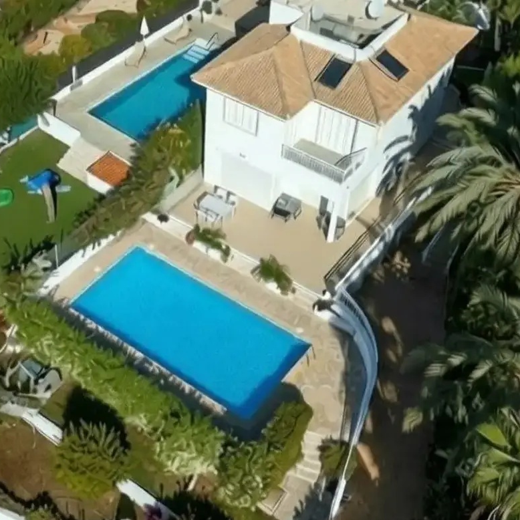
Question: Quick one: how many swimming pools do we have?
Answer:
2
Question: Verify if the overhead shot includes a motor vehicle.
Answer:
No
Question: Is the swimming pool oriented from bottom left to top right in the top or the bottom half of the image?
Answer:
top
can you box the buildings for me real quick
[88,145,129,182]
[191,0,482,244]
